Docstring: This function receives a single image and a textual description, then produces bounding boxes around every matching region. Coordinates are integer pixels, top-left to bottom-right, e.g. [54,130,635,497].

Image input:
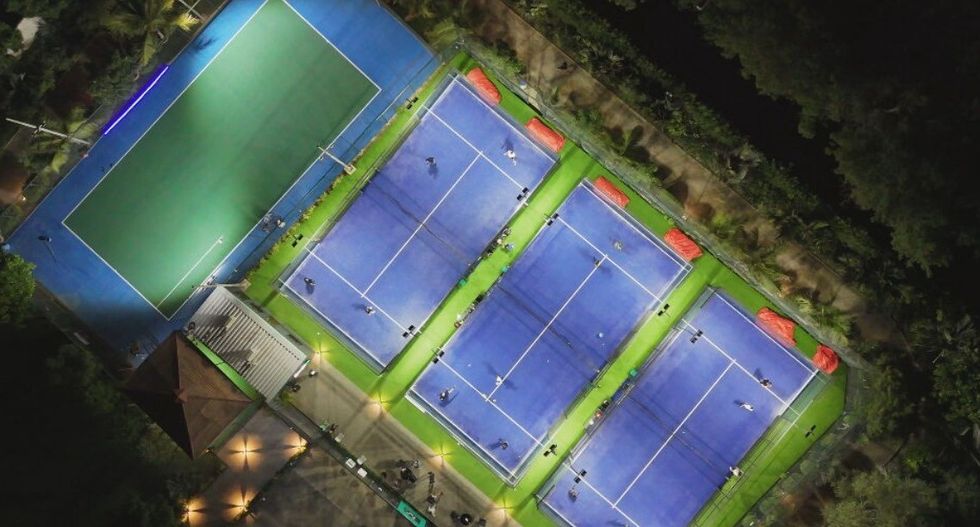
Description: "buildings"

[184,286,317,401]
[122,330,256,460]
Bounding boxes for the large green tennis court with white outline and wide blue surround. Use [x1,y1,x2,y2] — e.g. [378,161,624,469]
[2,0,440,366]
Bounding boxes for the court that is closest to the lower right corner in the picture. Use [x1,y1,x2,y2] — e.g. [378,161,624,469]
[534,286,831,527]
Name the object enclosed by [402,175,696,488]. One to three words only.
sports court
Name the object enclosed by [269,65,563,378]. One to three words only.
sports court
